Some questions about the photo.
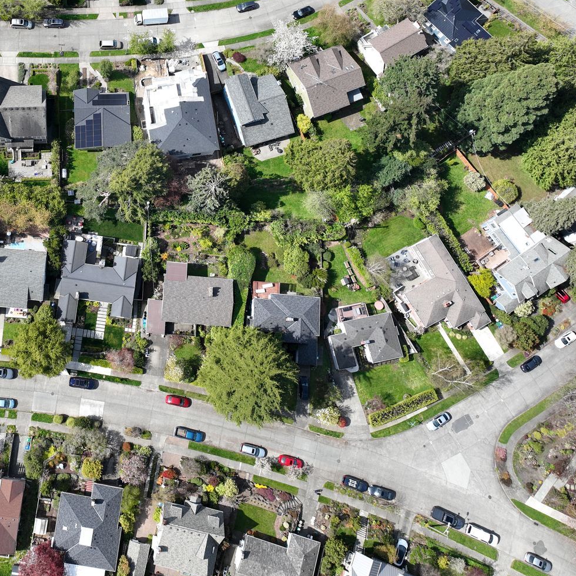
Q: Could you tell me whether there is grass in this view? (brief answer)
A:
Yes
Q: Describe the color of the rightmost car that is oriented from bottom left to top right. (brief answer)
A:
white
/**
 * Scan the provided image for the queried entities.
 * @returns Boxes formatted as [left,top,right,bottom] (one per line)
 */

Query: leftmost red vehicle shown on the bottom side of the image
[164,395,193,409]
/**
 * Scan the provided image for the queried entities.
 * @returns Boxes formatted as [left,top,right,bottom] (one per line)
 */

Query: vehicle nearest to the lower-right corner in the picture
[522,551,554,574]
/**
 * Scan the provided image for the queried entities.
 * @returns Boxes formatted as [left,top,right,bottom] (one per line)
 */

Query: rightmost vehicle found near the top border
[291,4,316,21]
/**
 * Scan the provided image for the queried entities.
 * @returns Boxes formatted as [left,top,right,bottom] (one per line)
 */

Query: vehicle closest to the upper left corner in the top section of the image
[8,18,34,30]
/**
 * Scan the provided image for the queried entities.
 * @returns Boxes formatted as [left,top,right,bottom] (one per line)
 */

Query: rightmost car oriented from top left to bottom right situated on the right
[553,283,574,308]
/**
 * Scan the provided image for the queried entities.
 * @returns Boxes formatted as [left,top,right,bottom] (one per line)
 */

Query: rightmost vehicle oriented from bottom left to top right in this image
[552,330,576,350]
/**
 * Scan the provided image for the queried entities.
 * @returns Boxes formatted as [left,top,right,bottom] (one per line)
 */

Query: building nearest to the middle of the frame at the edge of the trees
[252,294,320,367]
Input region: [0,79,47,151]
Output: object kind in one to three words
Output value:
house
